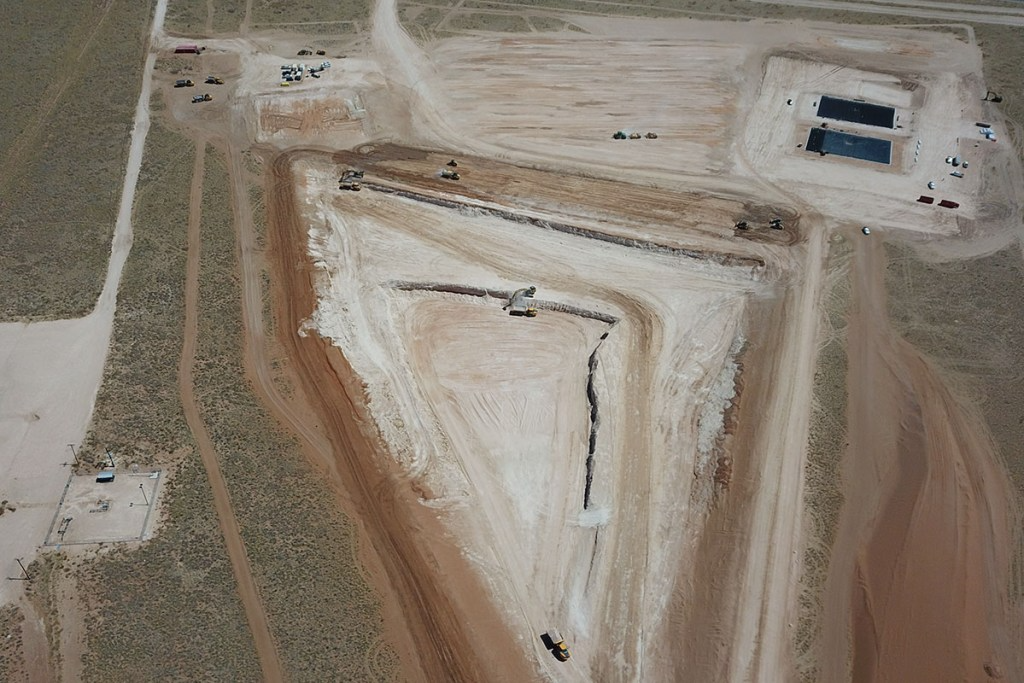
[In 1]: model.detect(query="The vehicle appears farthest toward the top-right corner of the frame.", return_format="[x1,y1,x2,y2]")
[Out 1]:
[982,90,1008,102]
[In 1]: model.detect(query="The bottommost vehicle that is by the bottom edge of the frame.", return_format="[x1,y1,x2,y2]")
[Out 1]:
[543,624,572,662]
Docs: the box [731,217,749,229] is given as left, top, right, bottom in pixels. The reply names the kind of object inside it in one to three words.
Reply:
vehicle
